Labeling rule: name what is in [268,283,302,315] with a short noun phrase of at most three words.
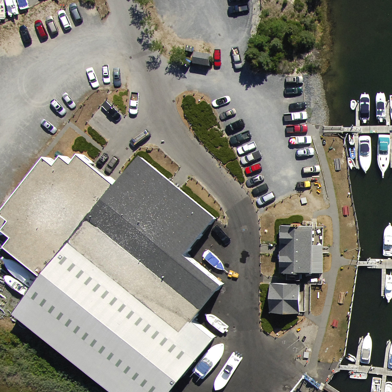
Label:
building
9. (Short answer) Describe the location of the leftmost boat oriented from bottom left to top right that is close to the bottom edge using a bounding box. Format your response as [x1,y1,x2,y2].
[193,344,223,379]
